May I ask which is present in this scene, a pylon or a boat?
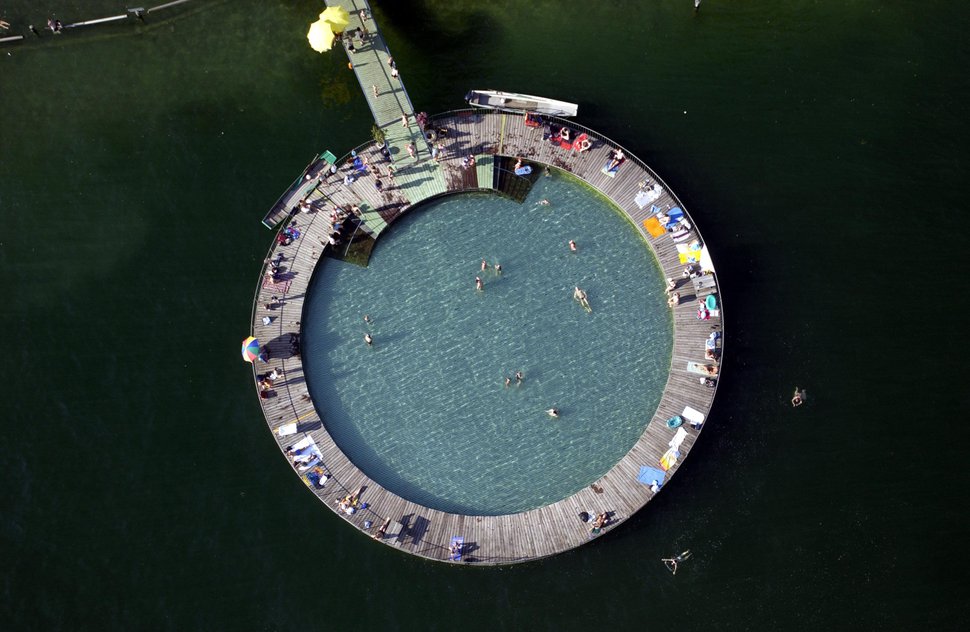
boat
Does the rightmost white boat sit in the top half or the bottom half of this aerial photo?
top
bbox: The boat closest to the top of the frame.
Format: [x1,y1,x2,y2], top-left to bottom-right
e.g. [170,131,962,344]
[466,90,578,115]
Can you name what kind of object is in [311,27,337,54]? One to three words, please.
umbrella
